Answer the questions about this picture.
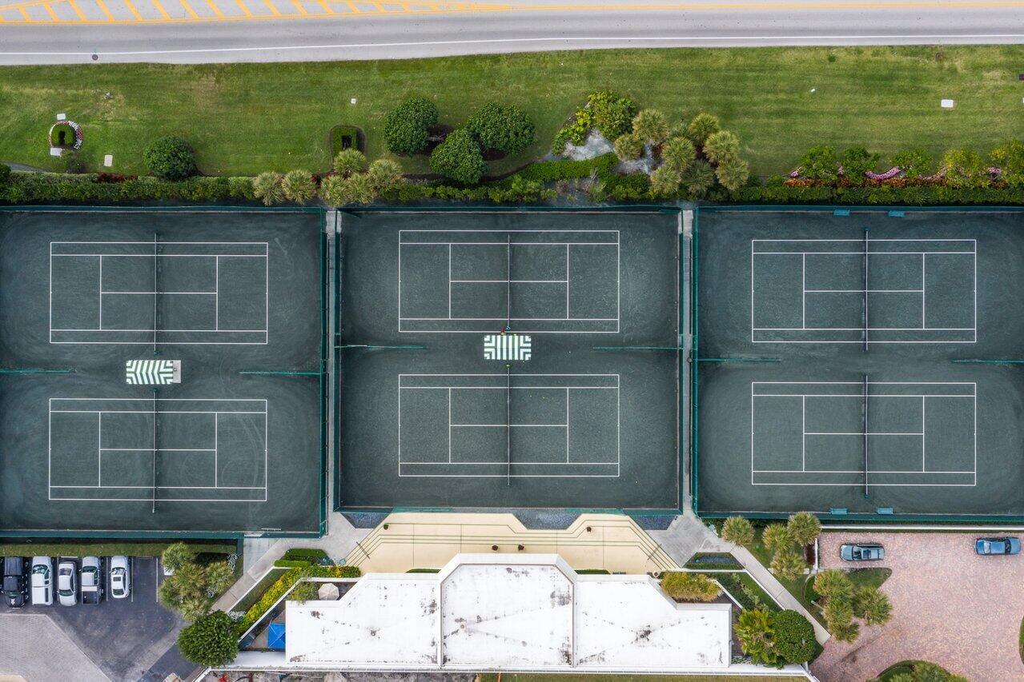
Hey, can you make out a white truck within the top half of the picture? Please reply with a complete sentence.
No, within the top half of the picture there is no white truck.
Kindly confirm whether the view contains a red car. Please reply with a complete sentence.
No, there's no red car here.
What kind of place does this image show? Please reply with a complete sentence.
The area seen from above is a sports ground.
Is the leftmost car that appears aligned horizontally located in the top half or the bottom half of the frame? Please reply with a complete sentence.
The leftmost car that appears aligned horizontally is in the bottom half of the image.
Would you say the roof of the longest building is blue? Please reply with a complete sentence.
No, the roof of the longest building is actually white.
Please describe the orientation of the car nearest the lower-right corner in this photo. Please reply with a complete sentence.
The car nearest the lower-right corner is laid out horizontally.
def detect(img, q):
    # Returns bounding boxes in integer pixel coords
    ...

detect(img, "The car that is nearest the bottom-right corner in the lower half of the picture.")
[972,536,1019,558]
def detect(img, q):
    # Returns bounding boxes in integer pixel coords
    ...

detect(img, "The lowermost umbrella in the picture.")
[320,581,340,601]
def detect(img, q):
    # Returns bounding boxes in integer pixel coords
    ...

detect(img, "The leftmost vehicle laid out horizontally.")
[838,542,885,565]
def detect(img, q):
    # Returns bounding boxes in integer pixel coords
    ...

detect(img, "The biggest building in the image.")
[285,554,733,668]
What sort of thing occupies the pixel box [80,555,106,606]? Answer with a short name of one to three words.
truck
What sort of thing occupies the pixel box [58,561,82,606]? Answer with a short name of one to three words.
car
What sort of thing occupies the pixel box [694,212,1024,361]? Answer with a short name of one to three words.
tennis court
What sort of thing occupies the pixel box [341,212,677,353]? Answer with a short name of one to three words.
tennis court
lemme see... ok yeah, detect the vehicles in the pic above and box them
[838,542,885,565]
[58,561,82,606]
[109,555,133,599]
[80,555,106,606]
[30,555,57,609]
[972,536,1019,558]
[2,556,29,608]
